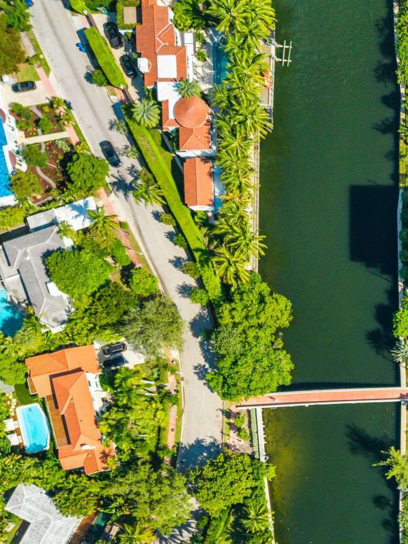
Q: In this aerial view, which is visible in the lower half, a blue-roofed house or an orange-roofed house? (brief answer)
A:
orange-roofed house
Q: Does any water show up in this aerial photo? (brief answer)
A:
Yes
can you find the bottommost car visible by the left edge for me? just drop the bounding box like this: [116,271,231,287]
[11,79,37,92]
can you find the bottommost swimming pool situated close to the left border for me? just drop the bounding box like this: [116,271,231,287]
[14,400,52,453]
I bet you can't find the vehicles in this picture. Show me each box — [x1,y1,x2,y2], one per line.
[119,55,137,78]
[11,79,37,92]
[103,355,127,367]
[102,141,119,166]
[26,0,37,11]
[100,342,126,355]
[103,21,123,50]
